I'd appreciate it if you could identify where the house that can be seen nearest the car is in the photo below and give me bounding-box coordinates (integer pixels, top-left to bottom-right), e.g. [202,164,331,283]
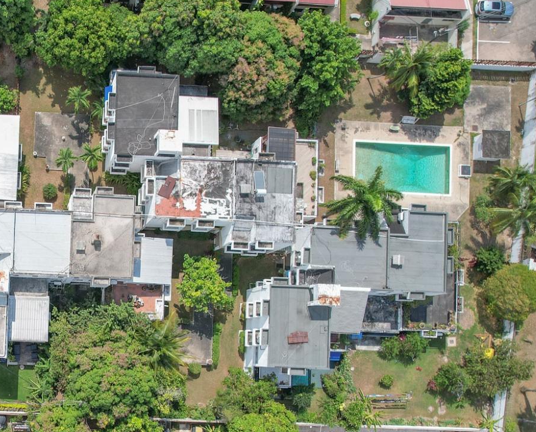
[362,0,471,72]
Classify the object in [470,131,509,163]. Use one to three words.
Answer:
shed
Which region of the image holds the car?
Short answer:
top right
